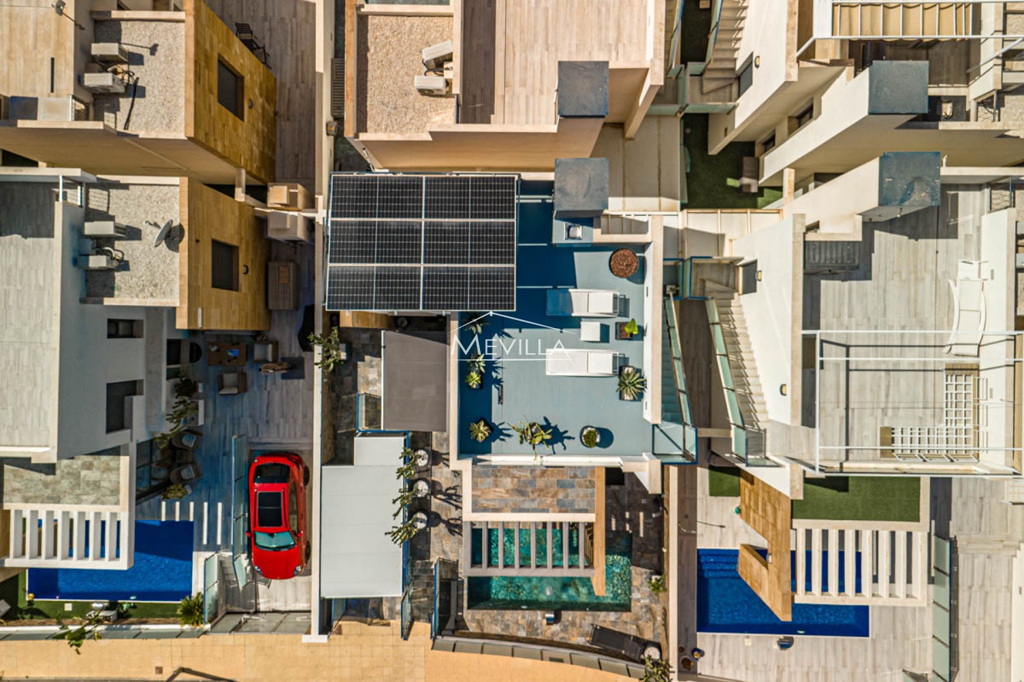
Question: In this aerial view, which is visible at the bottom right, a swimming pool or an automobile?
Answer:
swimming pool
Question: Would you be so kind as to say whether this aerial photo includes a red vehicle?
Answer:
Yes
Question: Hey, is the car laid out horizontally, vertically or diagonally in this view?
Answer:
vertically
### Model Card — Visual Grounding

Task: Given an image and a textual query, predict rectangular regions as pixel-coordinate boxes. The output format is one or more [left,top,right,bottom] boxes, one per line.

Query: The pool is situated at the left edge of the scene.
[27,519,191,602]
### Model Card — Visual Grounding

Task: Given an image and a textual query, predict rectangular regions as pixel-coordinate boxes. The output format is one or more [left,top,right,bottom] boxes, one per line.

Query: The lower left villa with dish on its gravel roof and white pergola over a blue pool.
[0,168,270,569]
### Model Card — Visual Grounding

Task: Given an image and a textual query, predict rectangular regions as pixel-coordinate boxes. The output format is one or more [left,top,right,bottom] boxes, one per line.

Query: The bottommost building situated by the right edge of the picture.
[683,151,1024,621]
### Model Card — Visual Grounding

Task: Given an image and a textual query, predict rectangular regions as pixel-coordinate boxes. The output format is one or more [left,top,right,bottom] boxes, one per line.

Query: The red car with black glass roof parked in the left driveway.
[244,451,309,578]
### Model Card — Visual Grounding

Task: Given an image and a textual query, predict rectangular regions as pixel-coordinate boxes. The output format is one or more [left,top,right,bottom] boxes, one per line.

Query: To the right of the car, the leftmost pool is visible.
[468,529,631,604]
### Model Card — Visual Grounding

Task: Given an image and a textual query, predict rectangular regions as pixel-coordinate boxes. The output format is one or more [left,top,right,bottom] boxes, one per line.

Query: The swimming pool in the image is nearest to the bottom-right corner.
[698,550,869,637]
